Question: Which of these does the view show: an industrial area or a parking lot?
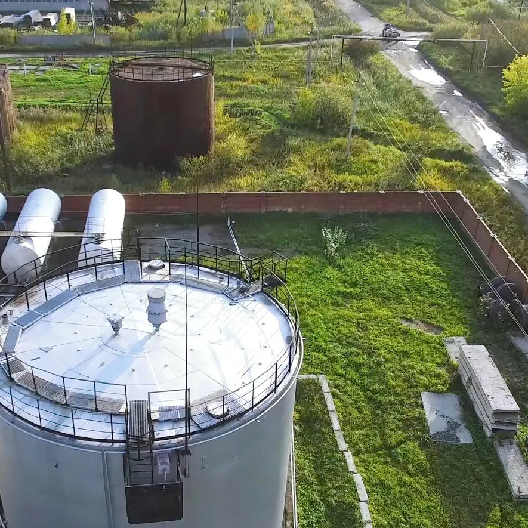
industrial area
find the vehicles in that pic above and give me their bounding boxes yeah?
[382,26,401,43]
